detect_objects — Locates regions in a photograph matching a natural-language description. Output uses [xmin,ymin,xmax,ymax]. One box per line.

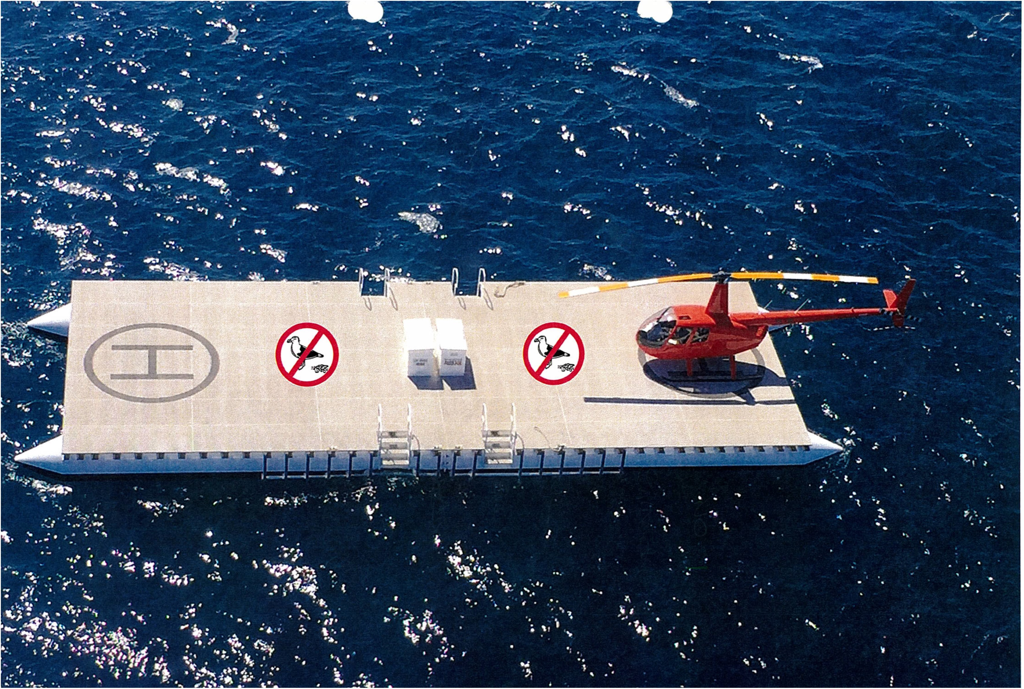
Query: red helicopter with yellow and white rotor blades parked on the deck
[559,272,922,383]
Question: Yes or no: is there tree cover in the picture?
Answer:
No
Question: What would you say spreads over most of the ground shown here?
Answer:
water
